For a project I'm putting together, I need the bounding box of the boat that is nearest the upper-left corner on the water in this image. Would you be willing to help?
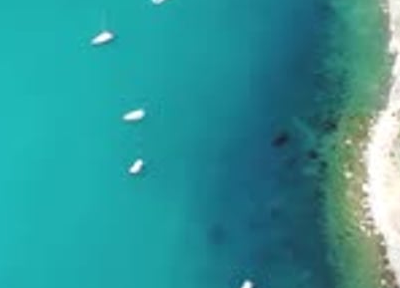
[91,14,115,42]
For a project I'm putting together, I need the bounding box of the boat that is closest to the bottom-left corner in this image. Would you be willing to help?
[128,157,144,174]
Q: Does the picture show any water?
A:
Yes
